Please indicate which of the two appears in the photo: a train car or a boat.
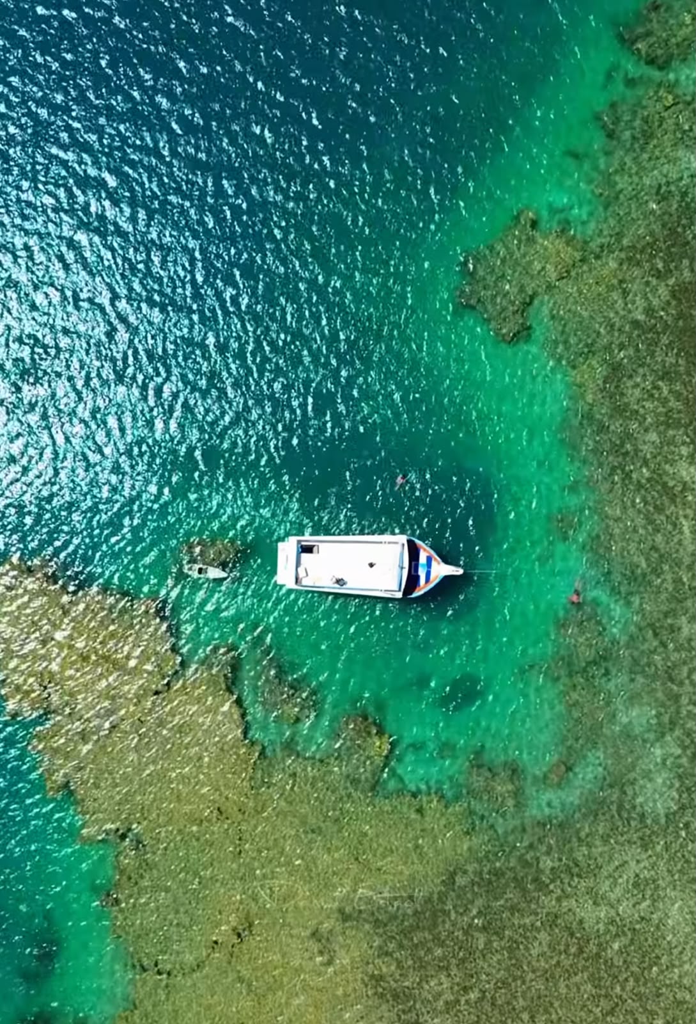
boat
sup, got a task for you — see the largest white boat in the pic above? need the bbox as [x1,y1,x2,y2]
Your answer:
[277,535,464,598]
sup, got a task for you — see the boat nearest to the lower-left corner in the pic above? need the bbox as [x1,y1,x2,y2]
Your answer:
[183,564,229,579]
